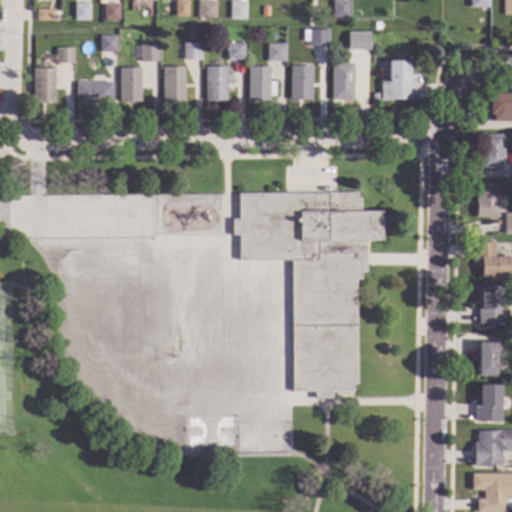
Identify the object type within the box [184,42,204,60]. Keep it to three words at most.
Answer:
building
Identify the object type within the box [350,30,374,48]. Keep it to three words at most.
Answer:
building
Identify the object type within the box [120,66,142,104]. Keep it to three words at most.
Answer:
house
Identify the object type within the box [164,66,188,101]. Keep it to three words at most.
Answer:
house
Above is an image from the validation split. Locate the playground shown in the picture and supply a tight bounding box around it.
[158,196,223,234]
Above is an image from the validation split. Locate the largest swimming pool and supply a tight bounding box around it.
[81,40,96,56]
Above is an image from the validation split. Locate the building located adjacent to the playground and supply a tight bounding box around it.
[233,192,386,398]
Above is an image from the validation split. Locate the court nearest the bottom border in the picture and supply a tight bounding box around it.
[180,416,239,453]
